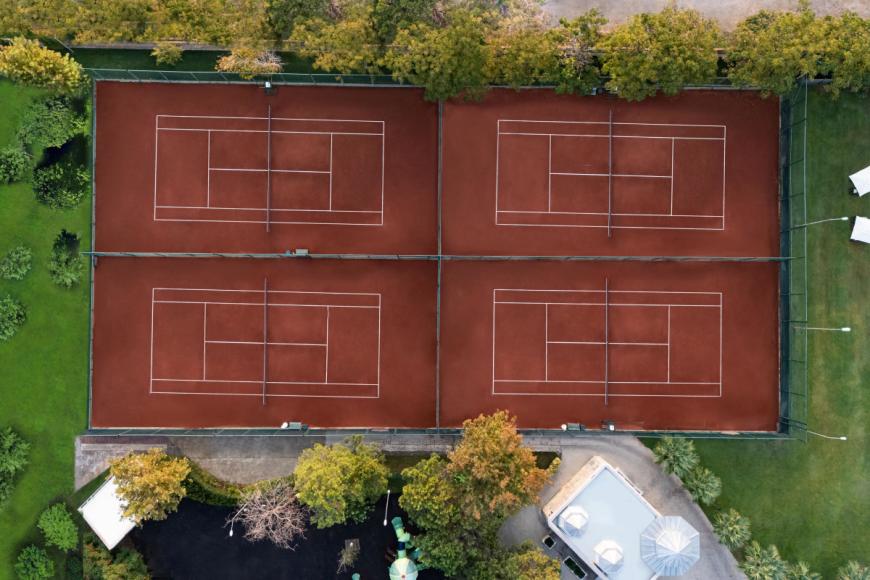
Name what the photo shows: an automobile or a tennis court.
tennis court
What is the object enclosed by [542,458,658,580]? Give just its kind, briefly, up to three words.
building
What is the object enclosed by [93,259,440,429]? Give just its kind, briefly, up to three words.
tennis court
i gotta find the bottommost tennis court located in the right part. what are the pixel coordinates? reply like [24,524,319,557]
[439,259,778,431]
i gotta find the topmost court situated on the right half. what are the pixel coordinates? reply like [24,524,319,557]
[442,87,779,258]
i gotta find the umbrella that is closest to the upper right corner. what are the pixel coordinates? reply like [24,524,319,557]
[845,164,870,198]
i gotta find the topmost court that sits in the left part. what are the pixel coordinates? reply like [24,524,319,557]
[94,82,440,256]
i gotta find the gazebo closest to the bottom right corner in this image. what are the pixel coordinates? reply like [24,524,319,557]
[640,508,700,577]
